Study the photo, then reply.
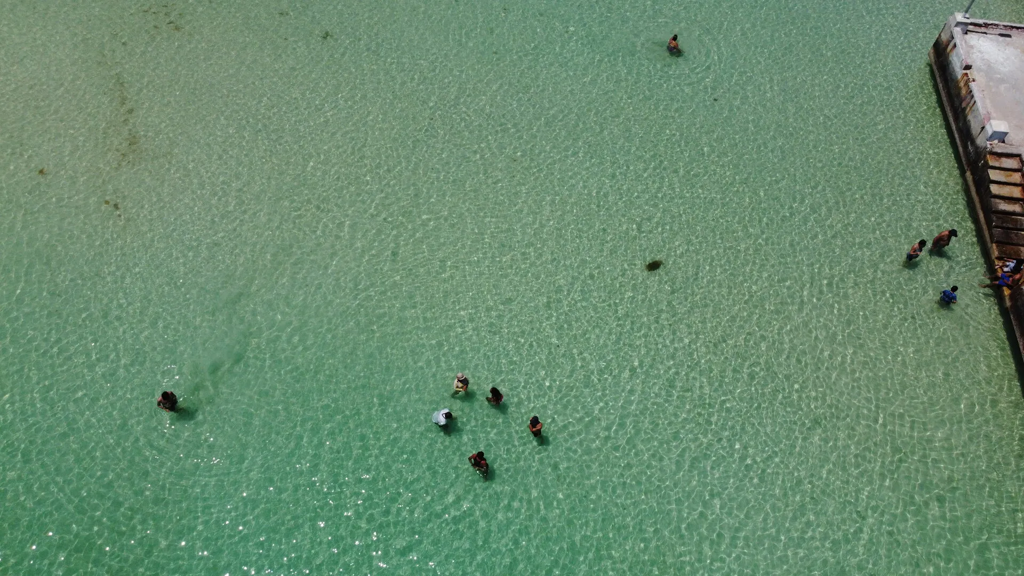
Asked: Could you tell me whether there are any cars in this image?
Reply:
No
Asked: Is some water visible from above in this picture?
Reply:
Yes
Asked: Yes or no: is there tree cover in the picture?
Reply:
No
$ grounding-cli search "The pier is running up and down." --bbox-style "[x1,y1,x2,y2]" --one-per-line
[927,11,1024,370]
